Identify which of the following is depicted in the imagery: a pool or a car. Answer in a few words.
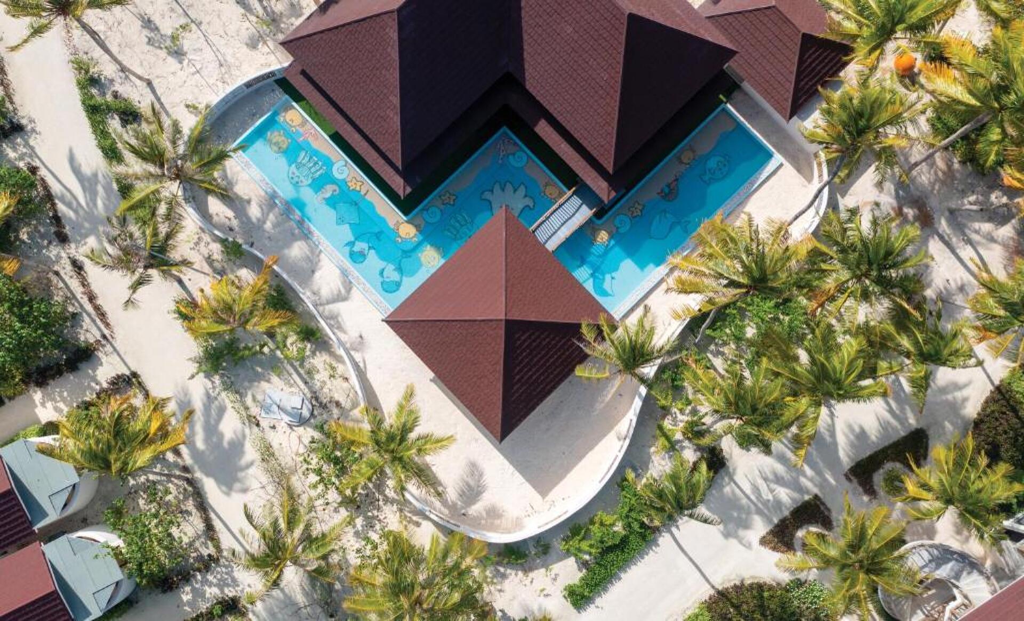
pool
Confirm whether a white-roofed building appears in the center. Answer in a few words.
No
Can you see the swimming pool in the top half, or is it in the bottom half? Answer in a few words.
top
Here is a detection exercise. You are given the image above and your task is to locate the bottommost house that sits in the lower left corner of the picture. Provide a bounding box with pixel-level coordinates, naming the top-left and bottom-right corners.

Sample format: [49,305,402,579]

[0,521,149,621]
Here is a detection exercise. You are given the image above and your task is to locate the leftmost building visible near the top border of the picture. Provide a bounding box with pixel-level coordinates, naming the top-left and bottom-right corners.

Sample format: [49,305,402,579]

[276,0,740,208]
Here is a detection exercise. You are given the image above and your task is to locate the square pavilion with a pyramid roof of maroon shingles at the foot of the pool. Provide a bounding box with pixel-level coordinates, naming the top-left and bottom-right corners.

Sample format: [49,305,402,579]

[384,206,616,440]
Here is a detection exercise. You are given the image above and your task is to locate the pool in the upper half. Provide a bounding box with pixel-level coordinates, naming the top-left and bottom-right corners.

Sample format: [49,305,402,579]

[234,98,782,323]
